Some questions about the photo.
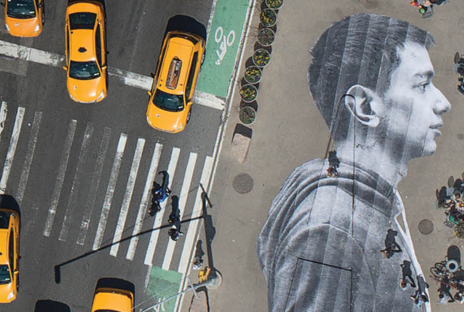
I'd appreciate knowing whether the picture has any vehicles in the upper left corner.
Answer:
Yes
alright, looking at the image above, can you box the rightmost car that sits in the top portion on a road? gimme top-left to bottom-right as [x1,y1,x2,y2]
[146,28,206,132]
